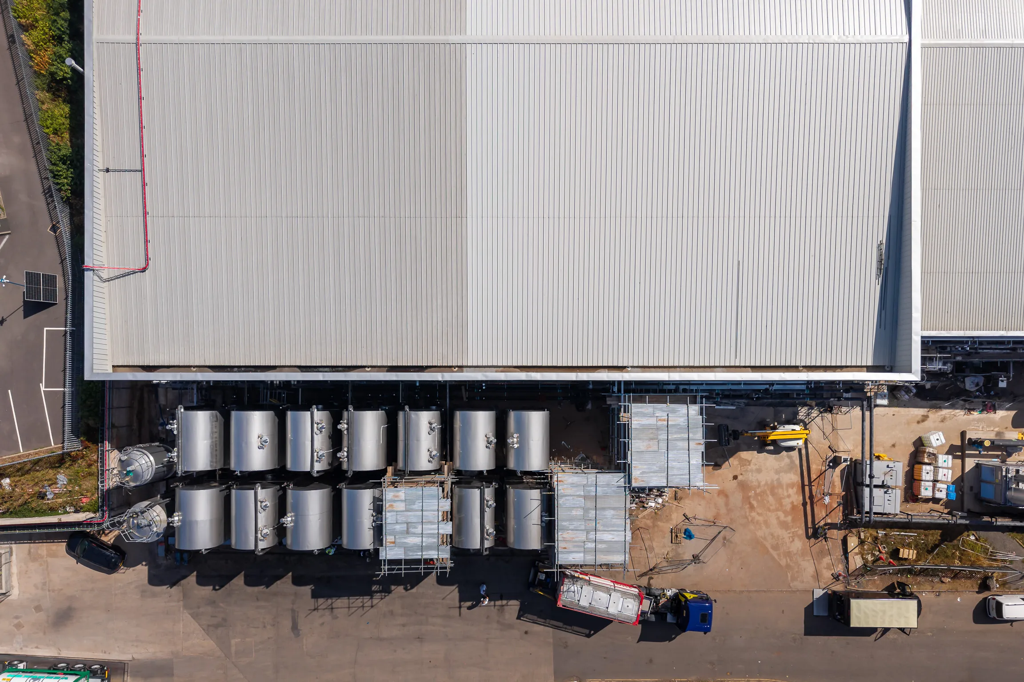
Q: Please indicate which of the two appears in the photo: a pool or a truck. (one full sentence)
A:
I can see a truck in this picture.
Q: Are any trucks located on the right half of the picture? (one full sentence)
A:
Yes, the scene does show a truck on the right half of the picture.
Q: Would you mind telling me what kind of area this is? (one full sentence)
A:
The picture captures an industrial area.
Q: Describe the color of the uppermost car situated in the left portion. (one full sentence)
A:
The color of the uppermost car situated in the left portion is black.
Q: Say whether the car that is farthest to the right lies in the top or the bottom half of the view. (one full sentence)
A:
You can find the car that is farthest to the right in the bottom half.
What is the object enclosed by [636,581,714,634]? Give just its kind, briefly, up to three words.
vehicle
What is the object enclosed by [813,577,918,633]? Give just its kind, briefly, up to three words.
truck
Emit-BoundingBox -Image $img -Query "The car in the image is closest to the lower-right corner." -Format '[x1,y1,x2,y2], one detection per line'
[982,592,1024,619]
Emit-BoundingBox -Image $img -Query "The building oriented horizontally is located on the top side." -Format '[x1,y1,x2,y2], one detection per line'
[84,0,920,380]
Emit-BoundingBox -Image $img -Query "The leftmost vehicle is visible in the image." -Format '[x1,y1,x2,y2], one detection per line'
[1,662,26,674]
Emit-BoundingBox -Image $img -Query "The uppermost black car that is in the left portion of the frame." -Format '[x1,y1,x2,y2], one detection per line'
[69,529,130,575]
